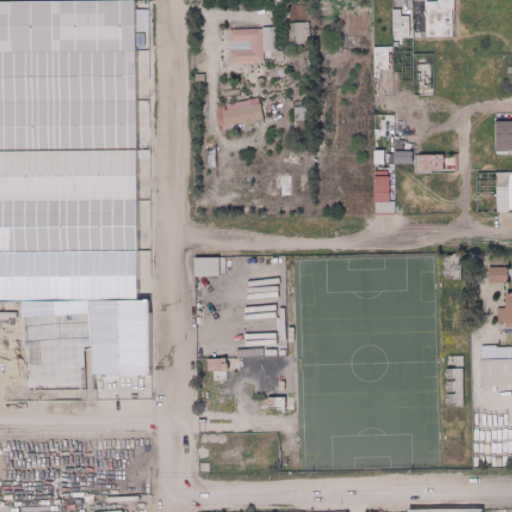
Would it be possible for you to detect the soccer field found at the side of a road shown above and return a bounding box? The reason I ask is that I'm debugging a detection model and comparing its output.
[298,254,442,470]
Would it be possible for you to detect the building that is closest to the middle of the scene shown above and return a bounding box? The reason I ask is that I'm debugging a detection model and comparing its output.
[195,258,219,277]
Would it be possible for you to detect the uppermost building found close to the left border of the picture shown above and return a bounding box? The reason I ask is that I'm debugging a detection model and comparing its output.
[0,1,137,150]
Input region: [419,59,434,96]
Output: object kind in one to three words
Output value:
house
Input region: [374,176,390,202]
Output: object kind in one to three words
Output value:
barn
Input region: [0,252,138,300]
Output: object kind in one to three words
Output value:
building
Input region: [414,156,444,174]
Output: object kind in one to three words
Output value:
house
